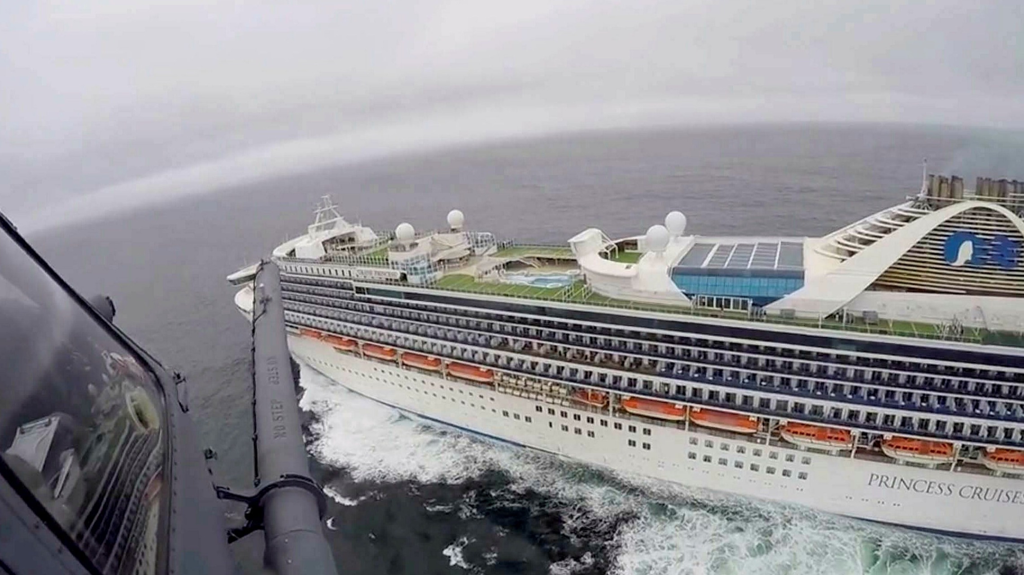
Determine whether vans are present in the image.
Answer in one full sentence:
No, this view has no van in it.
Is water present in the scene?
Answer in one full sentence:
Yes, water can be seen from above here.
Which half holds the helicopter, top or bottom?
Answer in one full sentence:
You can find the helicopter in the bottom half.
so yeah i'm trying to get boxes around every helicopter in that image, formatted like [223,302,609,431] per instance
[0,209,337,575]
